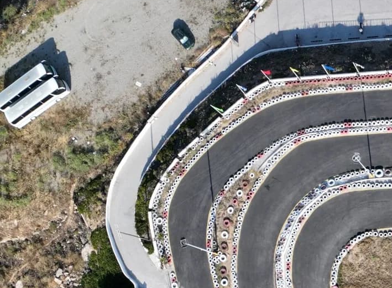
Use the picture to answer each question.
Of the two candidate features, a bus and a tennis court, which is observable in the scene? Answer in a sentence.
I can see a bus in this picture.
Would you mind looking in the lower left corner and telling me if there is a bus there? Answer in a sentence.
No, there is no bus in the lower left corner.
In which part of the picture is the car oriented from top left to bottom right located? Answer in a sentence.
The car oriented from top left to bottom right is in the top part of the image.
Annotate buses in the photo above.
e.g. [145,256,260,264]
[0,57,62,111]
[2,74,73,129]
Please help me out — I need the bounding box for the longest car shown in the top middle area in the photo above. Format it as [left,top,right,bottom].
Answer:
[170,19,196,50]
